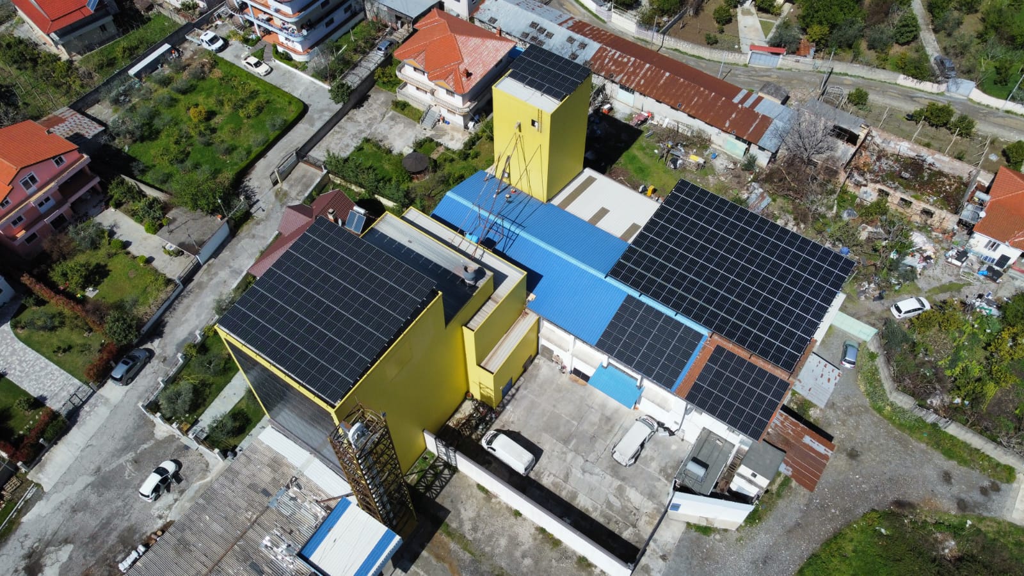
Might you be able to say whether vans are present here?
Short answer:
Yes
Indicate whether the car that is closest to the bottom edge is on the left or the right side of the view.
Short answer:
left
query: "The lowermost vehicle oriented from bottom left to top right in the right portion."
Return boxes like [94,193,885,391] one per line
[613,413,660,463]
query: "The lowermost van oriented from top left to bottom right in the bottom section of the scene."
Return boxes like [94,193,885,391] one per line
[480,429,537,476]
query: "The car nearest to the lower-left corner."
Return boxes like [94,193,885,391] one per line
[134,457,182,502]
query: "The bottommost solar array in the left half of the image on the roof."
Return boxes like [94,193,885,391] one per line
[222,217,436,405]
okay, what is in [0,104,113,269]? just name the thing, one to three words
house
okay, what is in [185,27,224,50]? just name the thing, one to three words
truck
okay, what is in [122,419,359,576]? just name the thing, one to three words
shed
